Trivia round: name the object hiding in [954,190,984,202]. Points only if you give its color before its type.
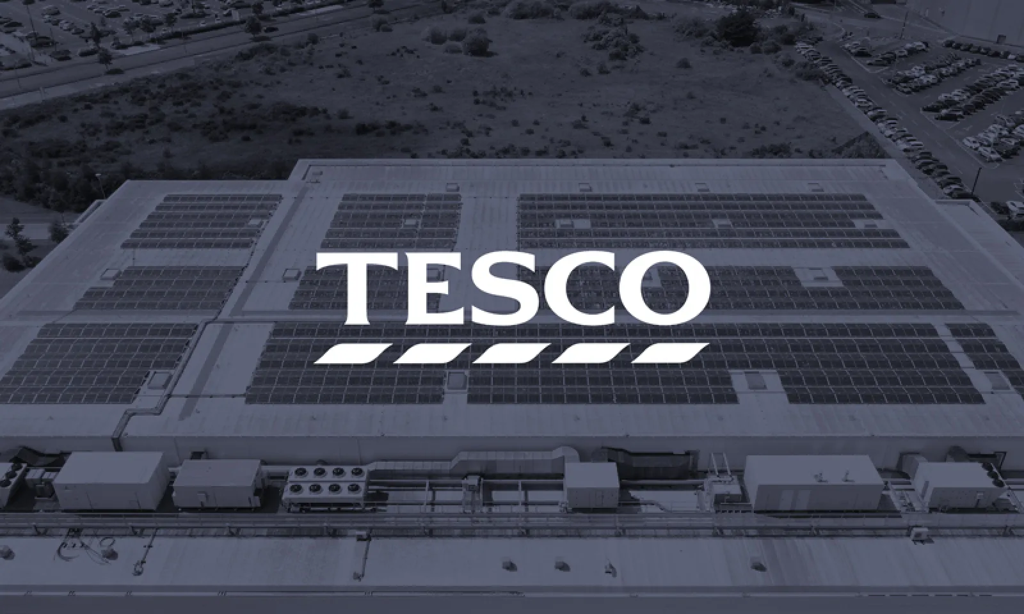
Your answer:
black vehicle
